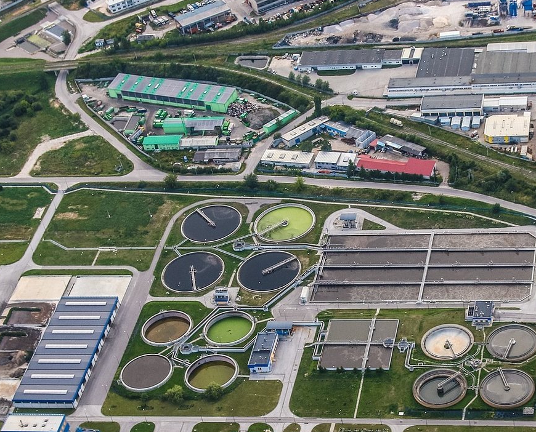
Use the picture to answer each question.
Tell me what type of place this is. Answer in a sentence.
What you see here is an industrial area.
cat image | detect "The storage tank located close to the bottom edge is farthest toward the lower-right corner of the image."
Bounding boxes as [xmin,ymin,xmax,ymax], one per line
[479,366,536,411]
